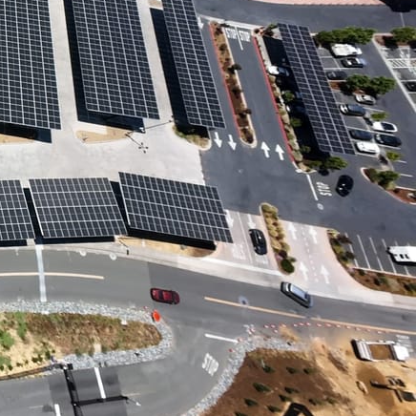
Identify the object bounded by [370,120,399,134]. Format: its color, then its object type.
white vehicle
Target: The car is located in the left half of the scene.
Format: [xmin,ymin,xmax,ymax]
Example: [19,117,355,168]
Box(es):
[149,287,179,305]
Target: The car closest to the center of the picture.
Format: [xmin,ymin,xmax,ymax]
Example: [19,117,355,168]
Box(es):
[247,229,271,256]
